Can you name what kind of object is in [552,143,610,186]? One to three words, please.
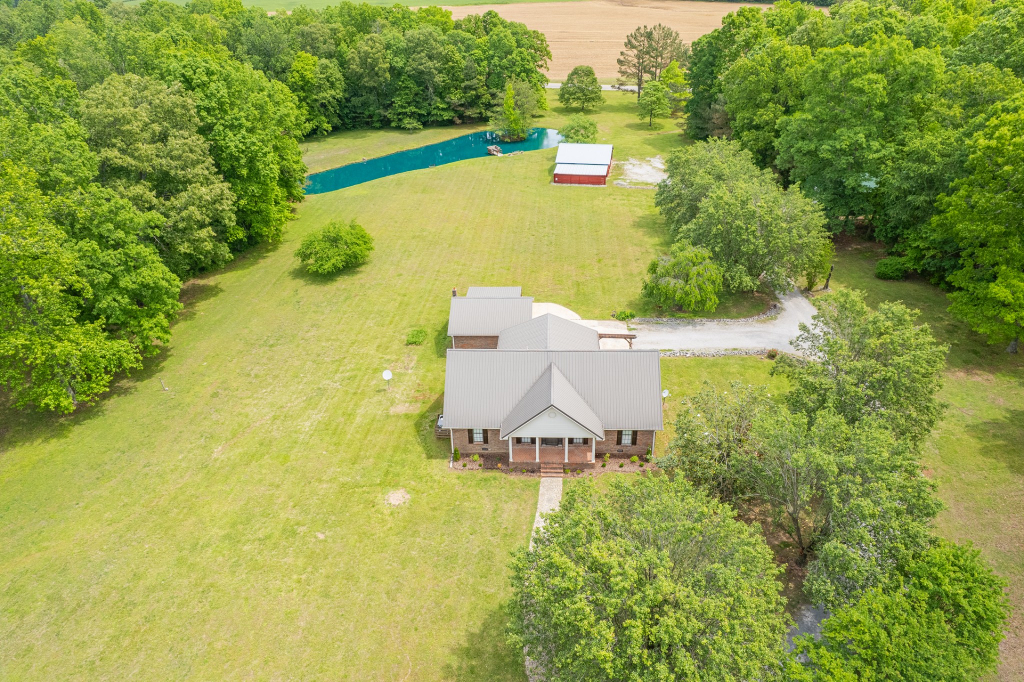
barn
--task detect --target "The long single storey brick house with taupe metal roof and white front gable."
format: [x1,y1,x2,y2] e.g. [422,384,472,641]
[442,284,664,478]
